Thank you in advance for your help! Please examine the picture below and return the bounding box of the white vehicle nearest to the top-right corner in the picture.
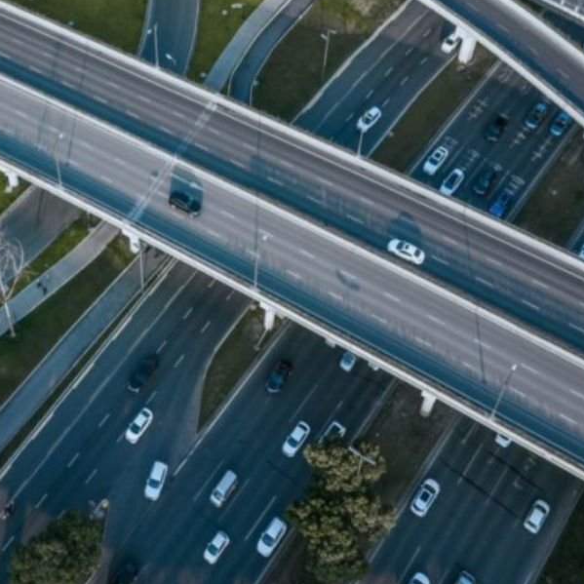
[440,32,463,54]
